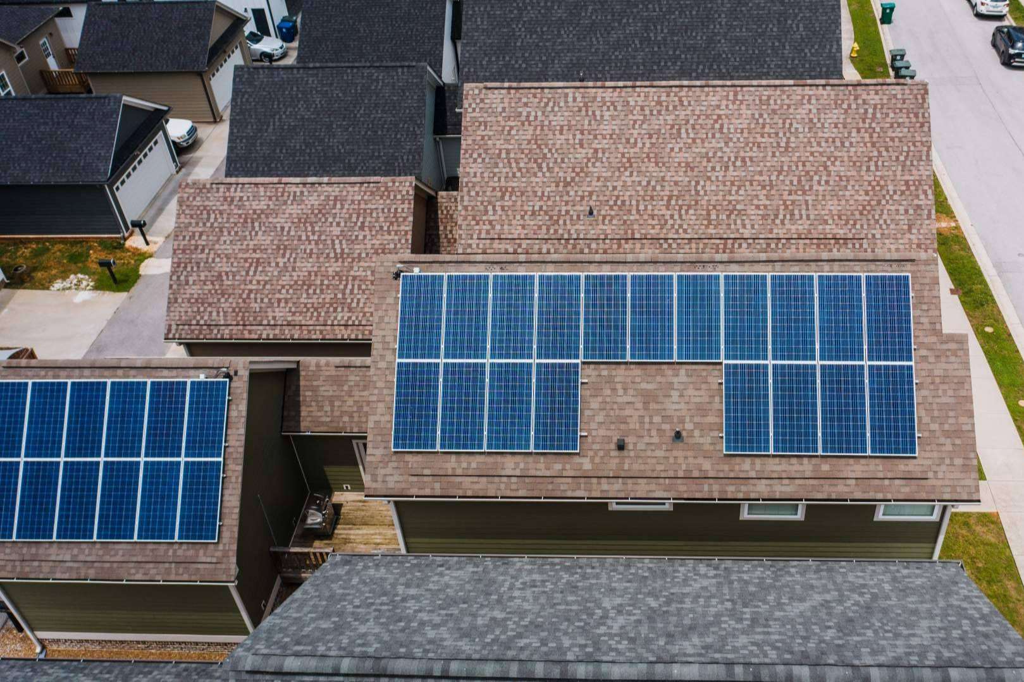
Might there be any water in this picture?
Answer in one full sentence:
No, no water is visible.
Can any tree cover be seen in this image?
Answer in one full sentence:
No, there is no tree cover in the image.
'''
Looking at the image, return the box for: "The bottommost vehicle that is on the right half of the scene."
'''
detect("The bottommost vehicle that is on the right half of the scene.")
[990,17,1024,64]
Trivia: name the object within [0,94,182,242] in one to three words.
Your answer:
building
